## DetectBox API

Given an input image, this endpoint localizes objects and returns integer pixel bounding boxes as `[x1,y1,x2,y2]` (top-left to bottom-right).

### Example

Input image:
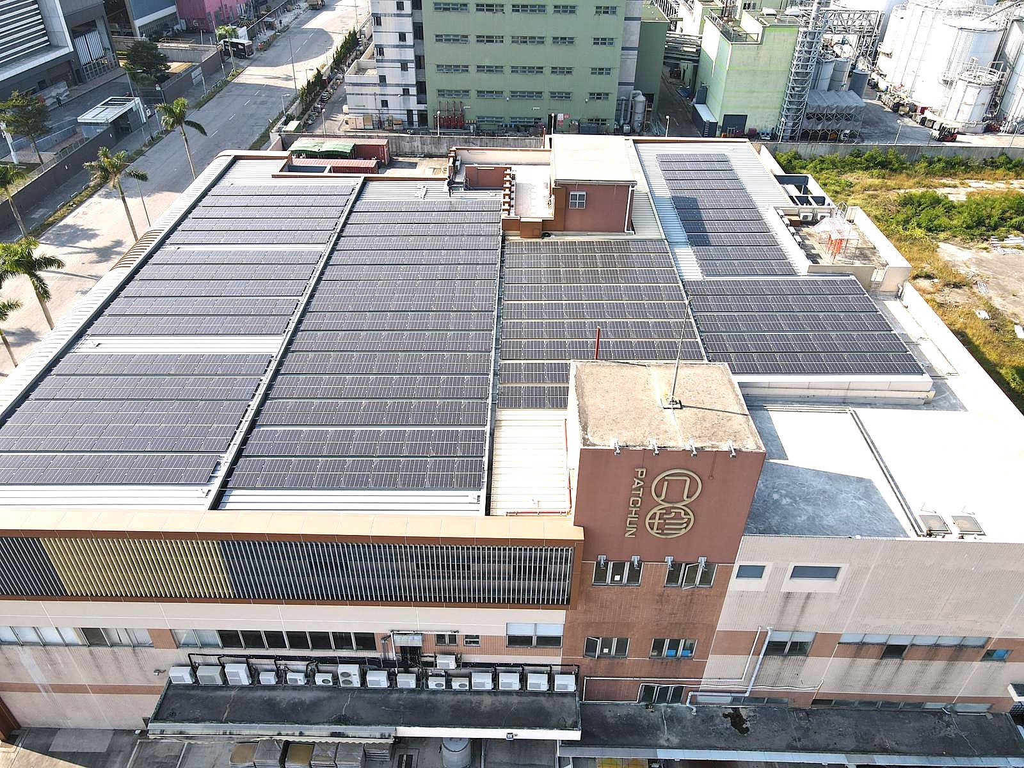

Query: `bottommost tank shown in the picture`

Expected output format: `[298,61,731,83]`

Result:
[442,738,472,768]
